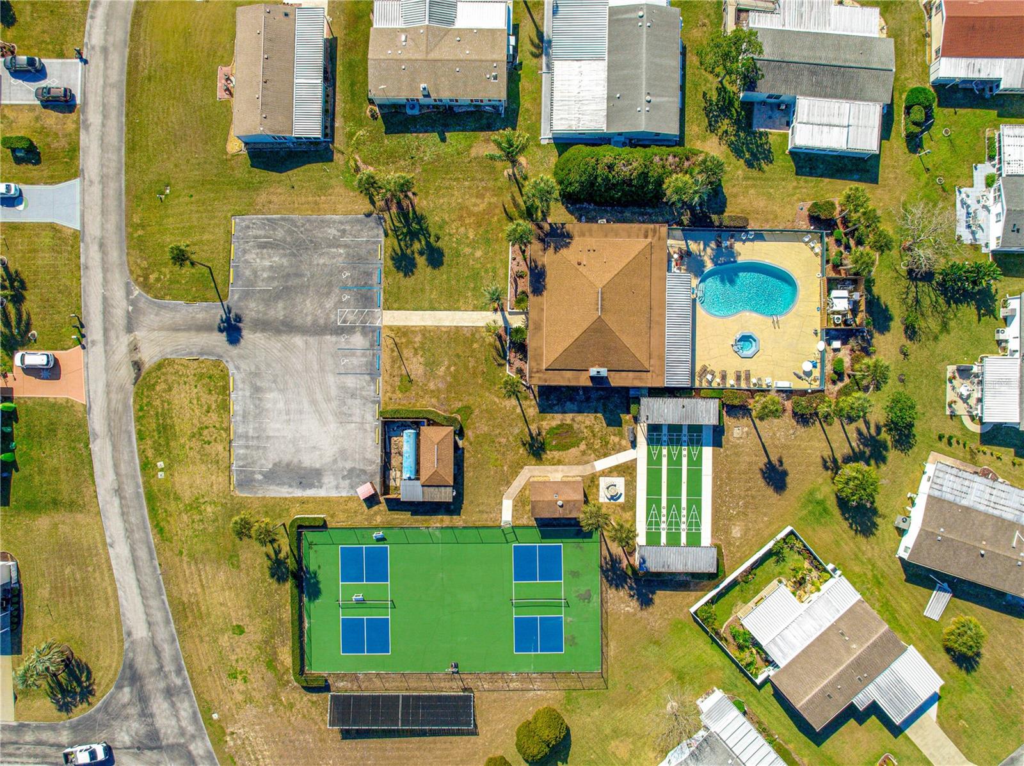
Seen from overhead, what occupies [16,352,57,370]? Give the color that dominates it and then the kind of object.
white car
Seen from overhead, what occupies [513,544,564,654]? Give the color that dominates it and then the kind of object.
blue sports court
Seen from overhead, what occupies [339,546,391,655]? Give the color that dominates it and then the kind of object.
blue sports court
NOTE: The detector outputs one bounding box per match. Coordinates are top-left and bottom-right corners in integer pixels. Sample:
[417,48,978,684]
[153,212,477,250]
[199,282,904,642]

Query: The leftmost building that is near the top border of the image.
[234,2,329,143]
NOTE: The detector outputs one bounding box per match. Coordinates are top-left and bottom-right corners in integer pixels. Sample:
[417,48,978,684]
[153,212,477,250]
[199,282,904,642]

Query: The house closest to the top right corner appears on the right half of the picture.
[925,0,1024,95]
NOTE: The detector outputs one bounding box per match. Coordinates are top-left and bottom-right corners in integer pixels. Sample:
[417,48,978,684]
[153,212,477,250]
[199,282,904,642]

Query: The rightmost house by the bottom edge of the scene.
[735,577,944,731]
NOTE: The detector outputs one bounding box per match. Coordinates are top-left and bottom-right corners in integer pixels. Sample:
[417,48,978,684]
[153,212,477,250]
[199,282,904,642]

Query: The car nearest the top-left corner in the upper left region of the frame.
[4,54,43,73]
